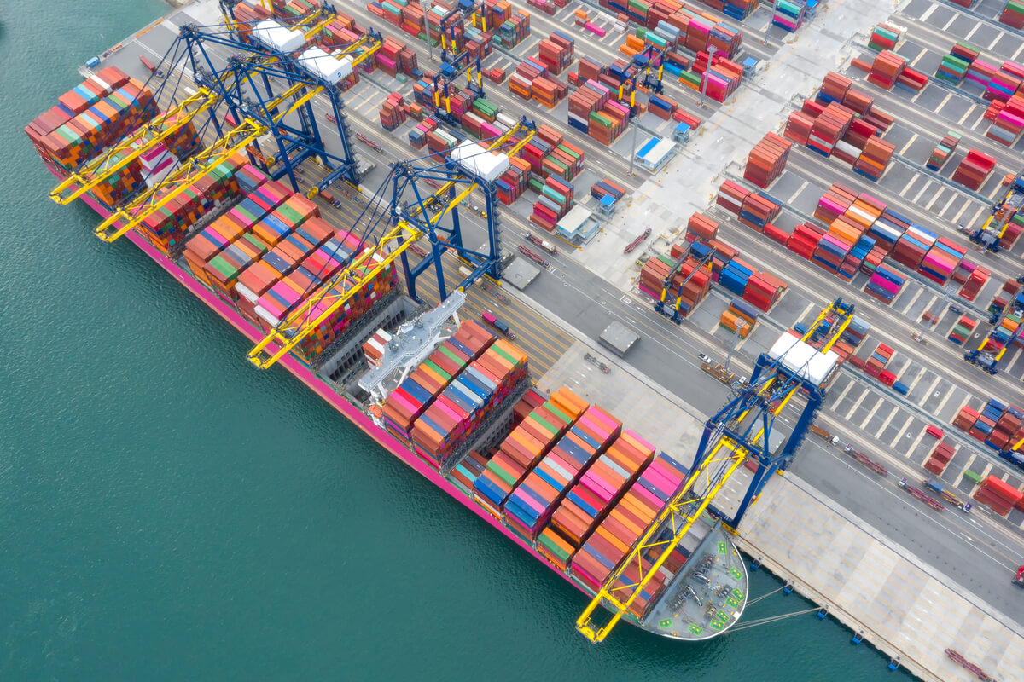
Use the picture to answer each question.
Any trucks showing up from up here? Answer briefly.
Yes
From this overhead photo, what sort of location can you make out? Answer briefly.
port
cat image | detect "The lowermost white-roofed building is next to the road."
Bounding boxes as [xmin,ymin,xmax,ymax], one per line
[556,205,595,245]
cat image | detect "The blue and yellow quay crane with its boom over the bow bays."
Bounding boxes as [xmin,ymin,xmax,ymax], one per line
[571,290,857,649]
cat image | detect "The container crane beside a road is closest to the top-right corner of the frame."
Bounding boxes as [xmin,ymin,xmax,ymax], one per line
[972,169,1024,252]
